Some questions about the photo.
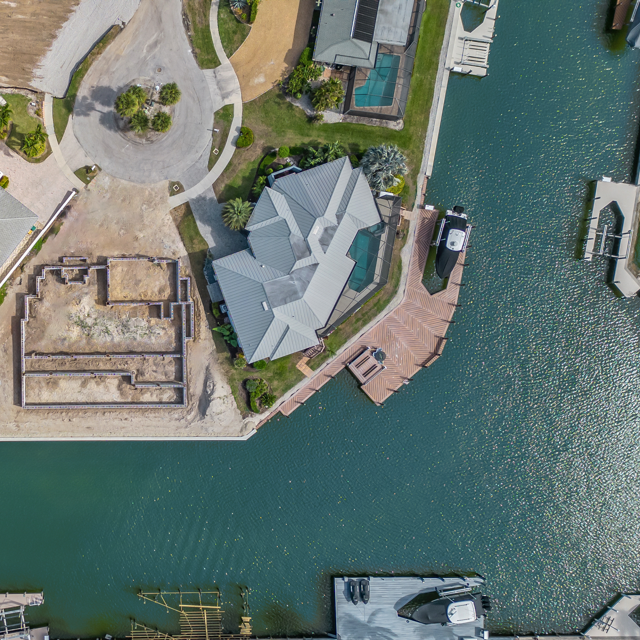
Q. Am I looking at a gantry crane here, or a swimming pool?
swimming pool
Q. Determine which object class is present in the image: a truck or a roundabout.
roundabout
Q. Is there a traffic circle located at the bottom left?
No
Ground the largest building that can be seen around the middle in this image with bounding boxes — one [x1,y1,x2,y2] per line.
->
[213,156,383,364]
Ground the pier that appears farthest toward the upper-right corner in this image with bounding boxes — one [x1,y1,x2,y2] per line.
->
[604,0,631,31]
